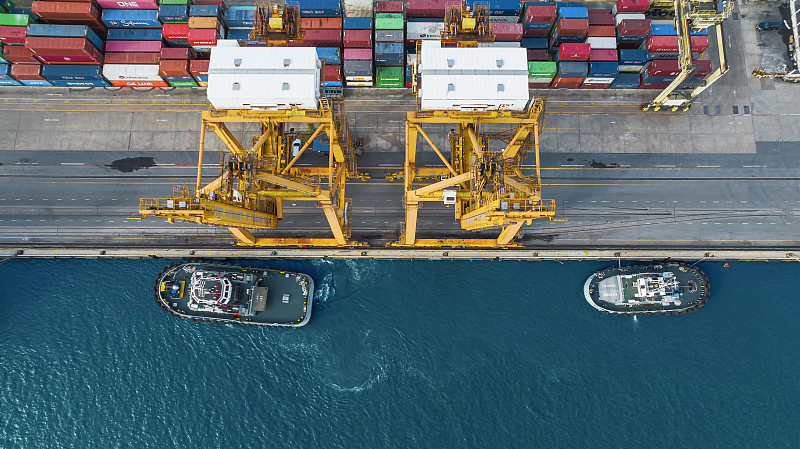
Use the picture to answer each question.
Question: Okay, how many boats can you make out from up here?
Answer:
2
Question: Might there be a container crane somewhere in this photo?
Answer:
Yes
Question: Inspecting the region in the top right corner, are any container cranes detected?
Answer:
Yes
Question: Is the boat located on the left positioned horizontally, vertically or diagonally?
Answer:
horizontally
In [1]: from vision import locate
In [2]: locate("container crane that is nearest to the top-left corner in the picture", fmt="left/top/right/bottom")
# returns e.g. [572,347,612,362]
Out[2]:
[127,0,369,248]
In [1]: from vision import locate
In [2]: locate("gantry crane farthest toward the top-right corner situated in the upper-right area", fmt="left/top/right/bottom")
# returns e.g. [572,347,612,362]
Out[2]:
[641,0,739,109]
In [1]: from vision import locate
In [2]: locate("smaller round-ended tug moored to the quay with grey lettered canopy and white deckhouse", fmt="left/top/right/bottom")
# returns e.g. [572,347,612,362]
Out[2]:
[584,261,712,318]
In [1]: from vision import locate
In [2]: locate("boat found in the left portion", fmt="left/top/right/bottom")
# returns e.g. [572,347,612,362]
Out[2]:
[153,259,315,330]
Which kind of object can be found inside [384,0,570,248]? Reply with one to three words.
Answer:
container crane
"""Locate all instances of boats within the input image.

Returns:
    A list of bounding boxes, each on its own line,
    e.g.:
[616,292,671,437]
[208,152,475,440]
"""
[584,261,712,318]
[153,259,315,330]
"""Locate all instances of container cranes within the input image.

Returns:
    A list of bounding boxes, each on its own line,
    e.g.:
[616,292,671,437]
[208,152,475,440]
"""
[641,0,739,109]
[384,0,570,248]
[127,0,369,248]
